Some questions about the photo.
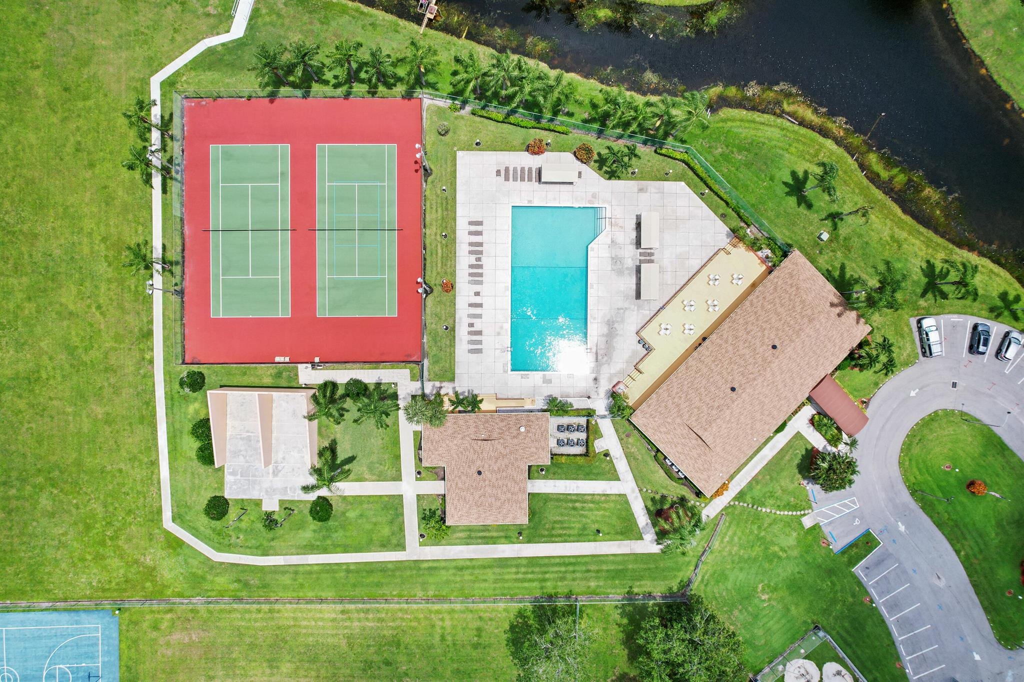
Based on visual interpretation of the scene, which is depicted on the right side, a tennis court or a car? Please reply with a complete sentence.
It is a car that can be seen on the right side.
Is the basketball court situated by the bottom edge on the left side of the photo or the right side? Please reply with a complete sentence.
The basketball court situated by the bottom edge appears in the left half of the scene.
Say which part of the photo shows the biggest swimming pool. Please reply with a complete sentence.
The biggest swimming pool sits in the center section of the image.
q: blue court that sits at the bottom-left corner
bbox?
[0,610,119,682]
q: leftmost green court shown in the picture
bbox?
[210,144,290,317]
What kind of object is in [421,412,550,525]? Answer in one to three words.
building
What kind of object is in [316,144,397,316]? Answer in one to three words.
tennis court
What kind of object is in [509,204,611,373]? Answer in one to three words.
swimming pool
